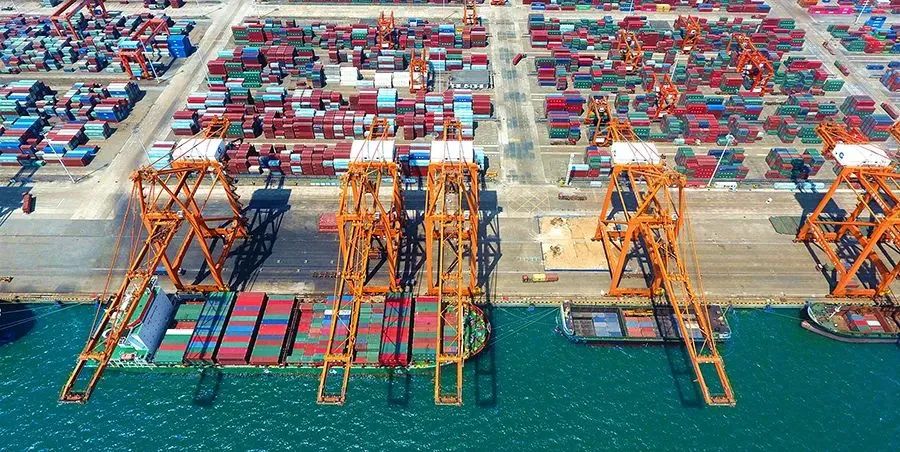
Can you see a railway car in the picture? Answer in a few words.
No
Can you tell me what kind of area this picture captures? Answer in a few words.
port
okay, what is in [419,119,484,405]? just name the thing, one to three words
container crane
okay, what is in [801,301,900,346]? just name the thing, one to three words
ship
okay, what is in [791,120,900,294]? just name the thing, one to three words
container crane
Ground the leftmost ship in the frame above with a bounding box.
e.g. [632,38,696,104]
[0,305,28,348]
